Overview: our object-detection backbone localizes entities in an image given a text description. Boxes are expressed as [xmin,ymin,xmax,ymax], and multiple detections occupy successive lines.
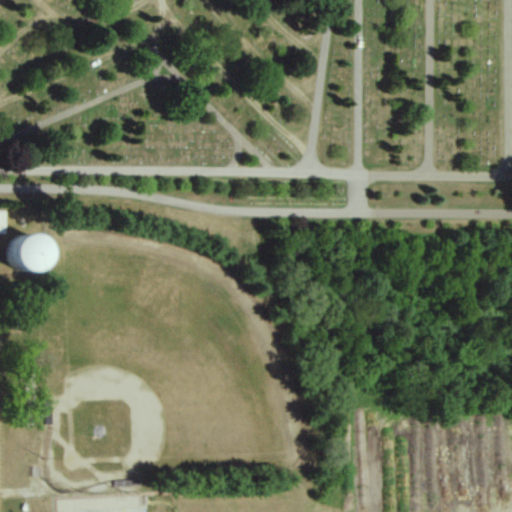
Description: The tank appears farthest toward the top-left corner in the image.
[8,232,60,274]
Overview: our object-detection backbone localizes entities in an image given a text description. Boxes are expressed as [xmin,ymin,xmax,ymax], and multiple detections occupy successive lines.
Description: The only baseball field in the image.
[48,230,303,492]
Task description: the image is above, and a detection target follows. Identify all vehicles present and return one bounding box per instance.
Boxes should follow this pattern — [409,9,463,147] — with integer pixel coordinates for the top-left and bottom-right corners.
[359,37,364,48]
[93,59,104,66]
